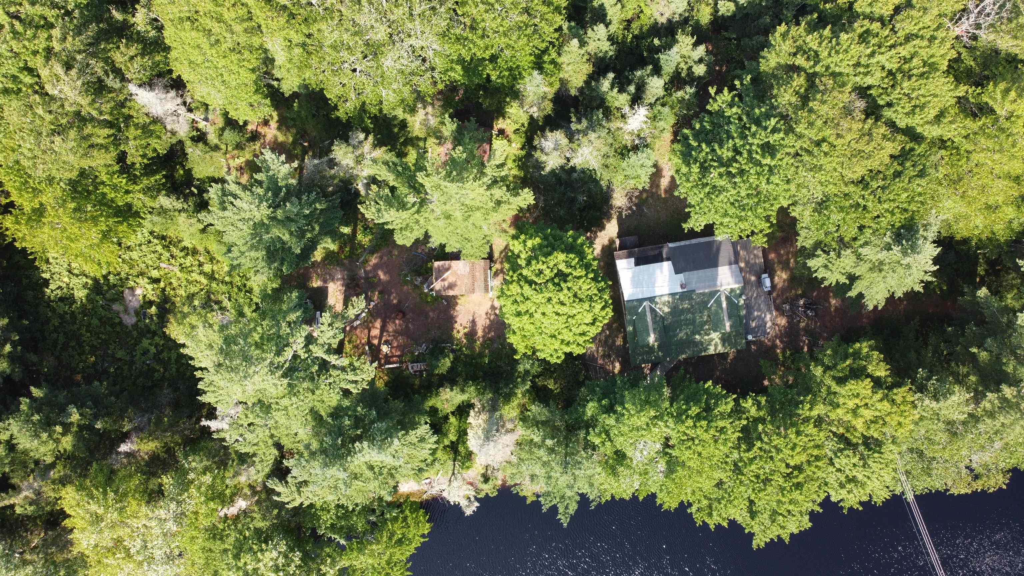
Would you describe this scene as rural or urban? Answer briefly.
rural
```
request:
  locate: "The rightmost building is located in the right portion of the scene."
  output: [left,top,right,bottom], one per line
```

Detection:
[615,234,781,367]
